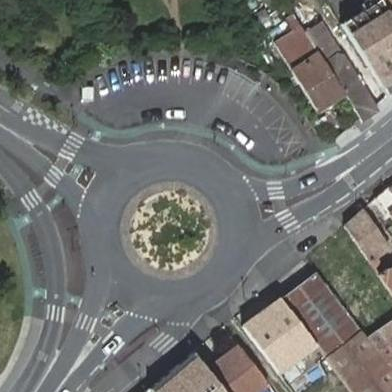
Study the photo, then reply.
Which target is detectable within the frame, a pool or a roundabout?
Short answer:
roundabout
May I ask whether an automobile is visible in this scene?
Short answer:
Yes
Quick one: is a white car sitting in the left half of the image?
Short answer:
Yes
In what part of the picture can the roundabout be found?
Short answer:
center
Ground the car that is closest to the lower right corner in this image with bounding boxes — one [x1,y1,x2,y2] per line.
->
[297,235,316,250]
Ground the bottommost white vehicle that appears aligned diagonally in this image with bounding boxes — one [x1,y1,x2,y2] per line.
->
[102,335,123,355]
